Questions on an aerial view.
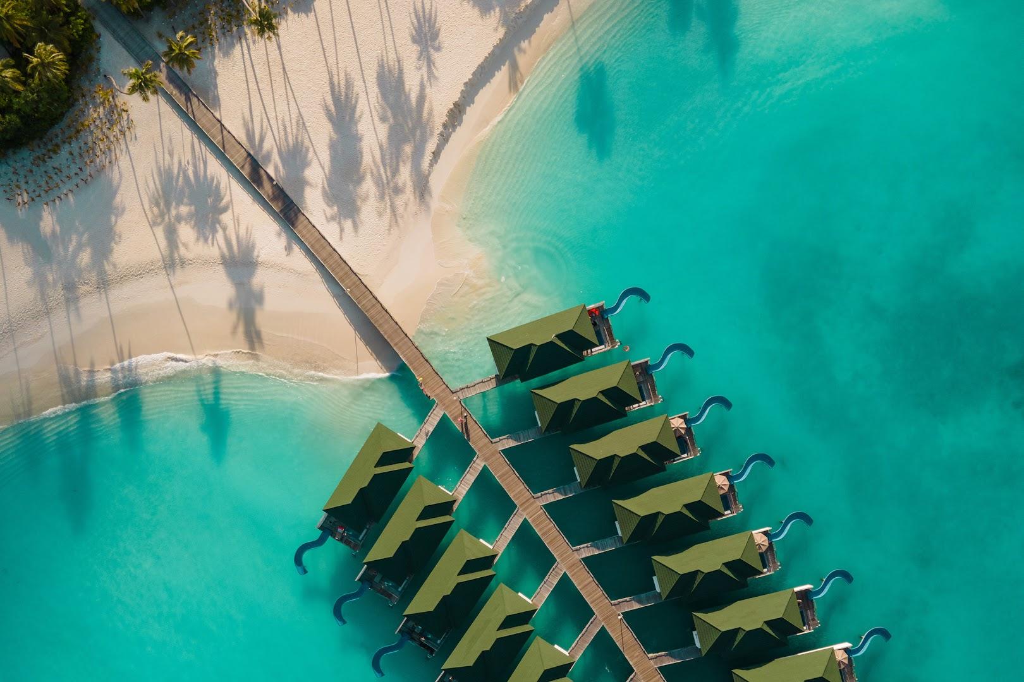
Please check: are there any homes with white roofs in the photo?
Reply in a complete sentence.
No, the photo shows no home with a white roof.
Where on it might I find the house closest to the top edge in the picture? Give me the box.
[487,301,626,382]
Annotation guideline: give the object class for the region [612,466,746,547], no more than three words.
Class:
house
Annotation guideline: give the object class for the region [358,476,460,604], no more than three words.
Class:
house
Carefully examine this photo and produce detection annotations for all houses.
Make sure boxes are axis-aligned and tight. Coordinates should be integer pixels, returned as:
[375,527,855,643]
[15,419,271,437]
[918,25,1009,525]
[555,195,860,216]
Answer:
[726,636,860,682]
[396,529,499,656]
[358,476,460,604]
[652,523,783,604]
[569,409,704,492]
[530,356,668,436]
[319,422,420,554]
[487,301,626,382]
[690,580,822,661]
[612,466,746,547]
[434,580,537,682]
[505,630,573,682]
